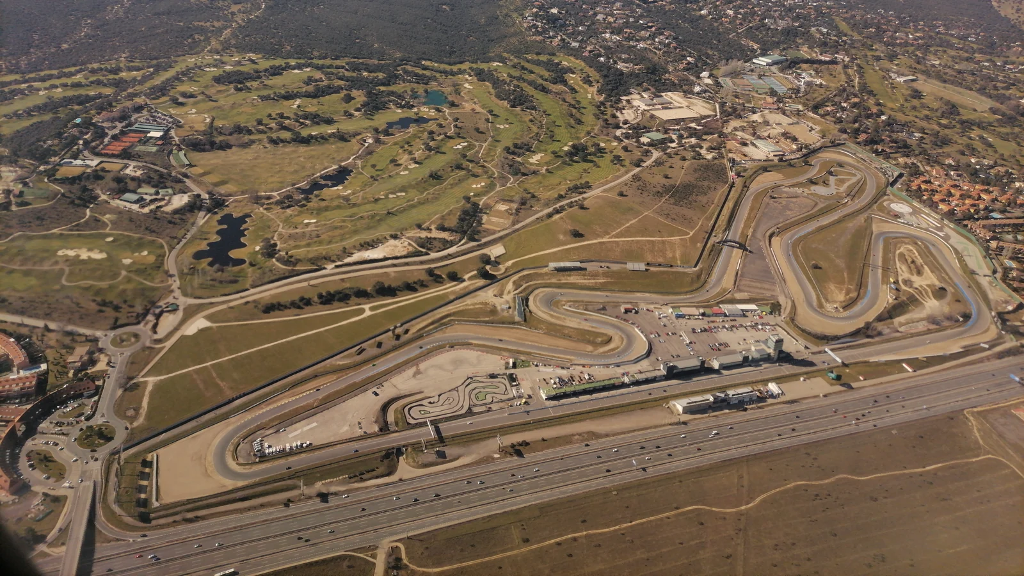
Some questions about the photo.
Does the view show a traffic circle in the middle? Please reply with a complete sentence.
No, no traffic circle is visible in the middle.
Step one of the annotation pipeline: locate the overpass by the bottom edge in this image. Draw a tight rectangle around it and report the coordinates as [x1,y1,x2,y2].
[57,465,101,576]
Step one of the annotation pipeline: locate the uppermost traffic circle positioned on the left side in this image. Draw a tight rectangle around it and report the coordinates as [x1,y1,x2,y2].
[96,324,154,356]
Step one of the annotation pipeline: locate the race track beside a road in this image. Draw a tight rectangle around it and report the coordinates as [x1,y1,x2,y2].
[210,158,990,481]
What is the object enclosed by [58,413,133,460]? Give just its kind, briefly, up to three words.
roundabout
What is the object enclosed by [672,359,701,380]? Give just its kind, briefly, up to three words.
building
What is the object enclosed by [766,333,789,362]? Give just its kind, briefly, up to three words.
building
